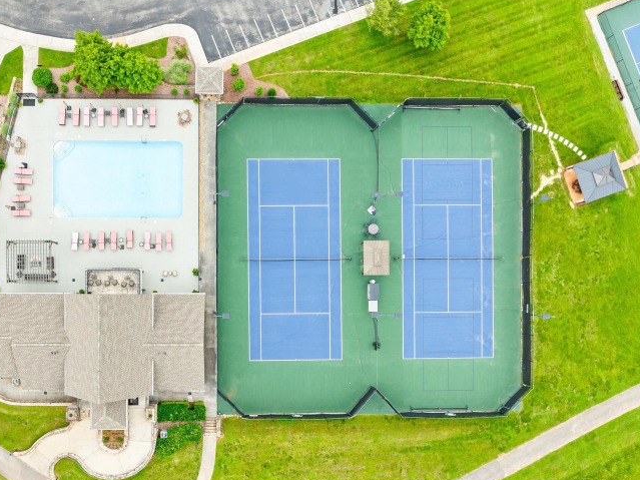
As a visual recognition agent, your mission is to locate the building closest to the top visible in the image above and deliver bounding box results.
[195,66,225,100]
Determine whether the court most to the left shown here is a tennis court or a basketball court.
tennis court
